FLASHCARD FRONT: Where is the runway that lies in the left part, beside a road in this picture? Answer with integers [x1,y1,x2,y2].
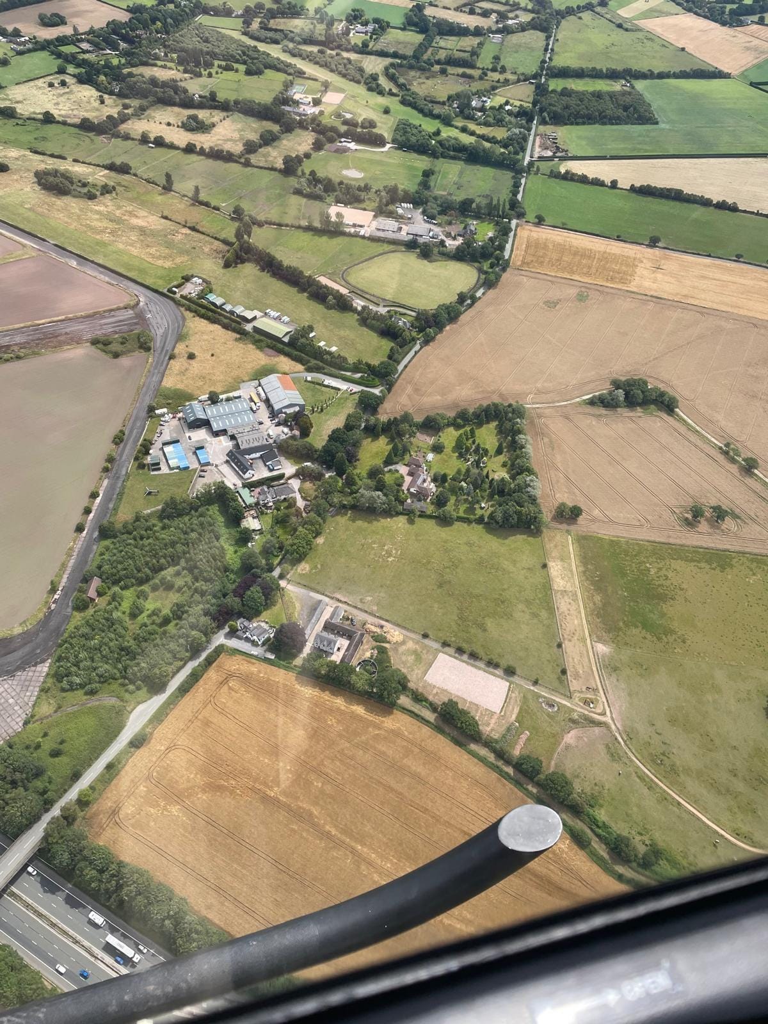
[0,308,142,349]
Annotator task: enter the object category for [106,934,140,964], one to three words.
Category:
truck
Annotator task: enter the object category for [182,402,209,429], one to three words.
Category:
shed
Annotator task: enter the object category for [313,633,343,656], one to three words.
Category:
house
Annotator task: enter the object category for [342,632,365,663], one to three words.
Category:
barn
